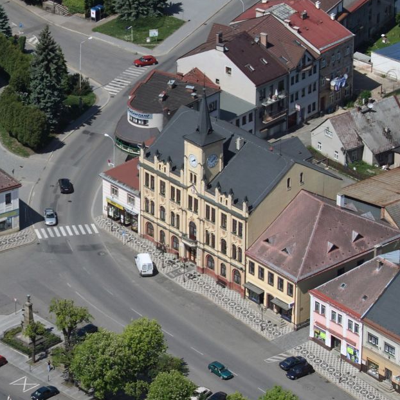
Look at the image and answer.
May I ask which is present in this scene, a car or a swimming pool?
car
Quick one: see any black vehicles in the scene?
Yes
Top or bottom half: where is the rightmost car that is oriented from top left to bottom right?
bottom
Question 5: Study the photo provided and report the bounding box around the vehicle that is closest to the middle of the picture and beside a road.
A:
[137,254,152,271]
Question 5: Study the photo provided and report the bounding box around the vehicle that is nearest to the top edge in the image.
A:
[133,52,158,65]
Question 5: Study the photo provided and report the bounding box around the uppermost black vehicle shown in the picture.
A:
[59,176,73,193]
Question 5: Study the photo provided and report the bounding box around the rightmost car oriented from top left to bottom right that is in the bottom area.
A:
[207,357,234,377]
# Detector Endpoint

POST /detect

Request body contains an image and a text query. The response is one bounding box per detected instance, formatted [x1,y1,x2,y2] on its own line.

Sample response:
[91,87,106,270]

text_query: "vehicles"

[133,52,158,65]
[279,353,308,369]
[44,205,57,224]
[207,389,229,400]
[59,176,73,193]
[30,384,59,400]
[0,351,9,364]
[137,254,152,271]
[288,360,316,378]
[207,357,234,377]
